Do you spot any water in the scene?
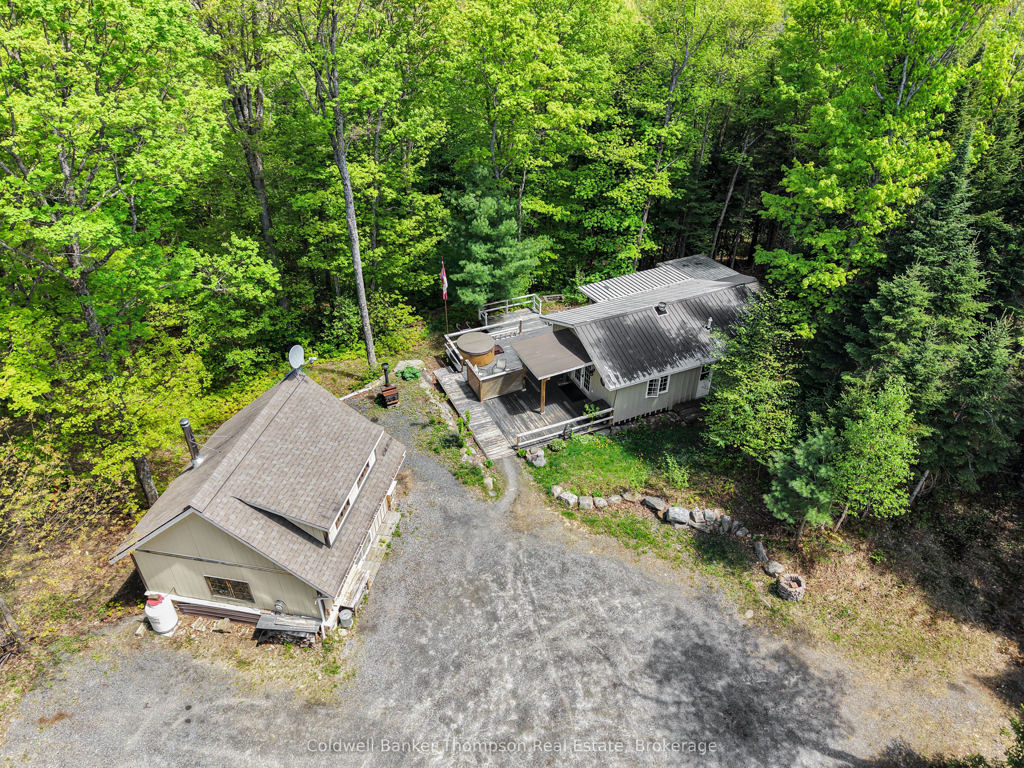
No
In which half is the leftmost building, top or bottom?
bottom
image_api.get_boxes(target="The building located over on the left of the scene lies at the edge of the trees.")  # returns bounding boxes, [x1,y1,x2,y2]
[108,372,408,645]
